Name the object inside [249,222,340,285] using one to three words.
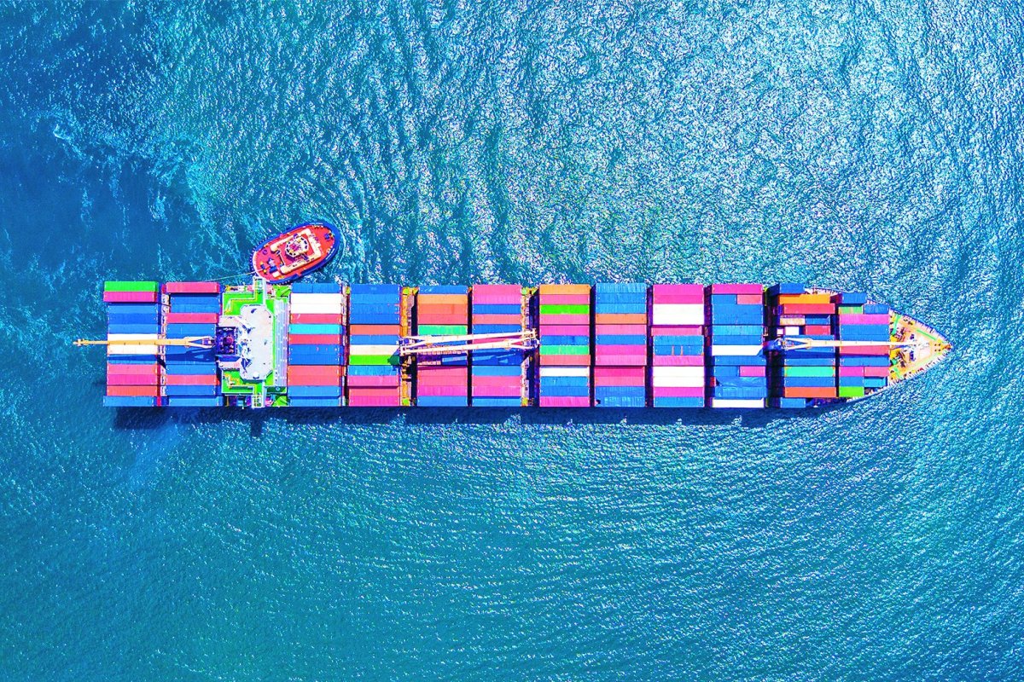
boat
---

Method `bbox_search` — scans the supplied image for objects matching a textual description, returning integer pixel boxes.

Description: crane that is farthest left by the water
[72,333,218,349]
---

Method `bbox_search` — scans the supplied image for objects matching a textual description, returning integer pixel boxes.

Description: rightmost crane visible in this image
[759,334,920,351]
